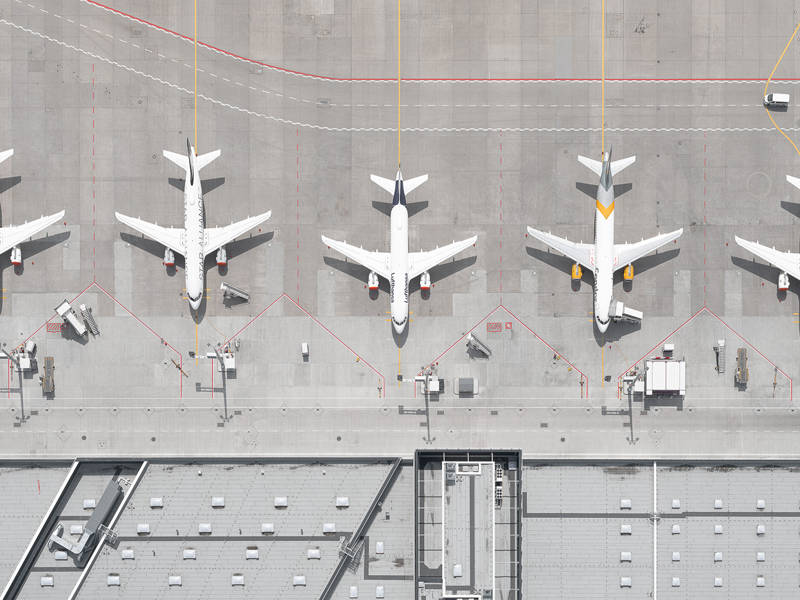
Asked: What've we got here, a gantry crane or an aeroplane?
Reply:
aeroplane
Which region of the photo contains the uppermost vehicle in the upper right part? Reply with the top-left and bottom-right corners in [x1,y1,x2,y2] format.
[765,92,791,105]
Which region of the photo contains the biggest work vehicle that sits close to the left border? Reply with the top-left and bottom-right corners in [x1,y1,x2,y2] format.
[39,357,56,392]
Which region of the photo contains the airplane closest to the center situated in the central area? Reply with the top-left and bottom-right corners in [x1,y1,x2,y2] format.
[321,162,477,334]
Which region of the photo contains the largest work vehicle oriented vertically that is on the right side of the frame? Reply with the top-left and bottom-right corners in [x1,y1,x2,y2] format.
[733,348,748,383]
